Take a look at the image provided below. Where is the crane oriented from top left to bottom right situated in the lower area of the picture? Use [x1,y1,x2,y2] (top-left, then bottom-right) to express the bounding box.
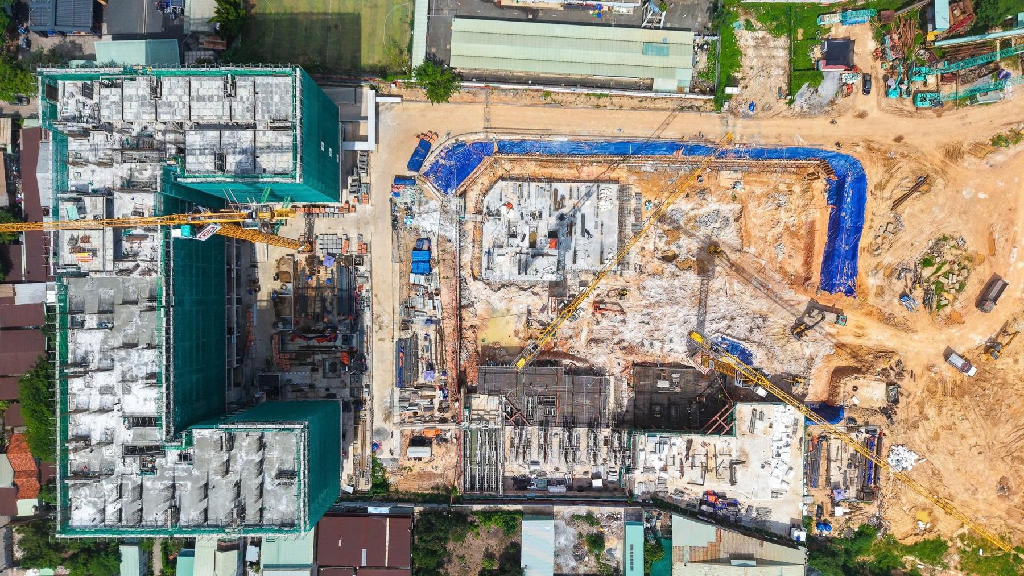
[697,341,1019,557]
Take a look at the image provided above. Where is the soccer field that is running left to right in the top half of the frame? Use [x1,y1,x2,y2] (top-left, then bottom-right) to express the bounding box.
[246,0,411,73]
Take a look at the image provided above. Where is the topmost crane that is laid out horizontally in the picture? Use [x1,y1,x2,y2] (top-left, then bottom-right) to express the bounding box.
[904,46,1024,81]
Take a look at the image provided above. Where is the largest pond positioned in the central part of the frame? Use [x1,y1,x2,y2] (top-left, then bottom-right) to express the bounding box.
[476,306,535,351]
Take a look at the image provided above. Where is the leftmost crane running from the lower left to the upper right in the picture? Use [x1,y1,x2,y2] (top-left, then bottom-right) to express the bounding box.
[513,131,736,371]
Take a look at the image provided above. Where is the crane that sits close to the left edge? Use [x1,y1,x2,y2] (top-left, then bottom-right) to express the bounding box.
[0,186,320,255]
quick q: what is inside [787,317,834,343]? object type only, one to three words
work vehicle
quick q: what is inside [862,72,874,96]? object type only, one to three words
vehicle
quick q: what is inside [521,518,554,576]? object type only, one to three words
shed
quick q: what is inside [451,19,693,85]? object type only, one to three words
building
